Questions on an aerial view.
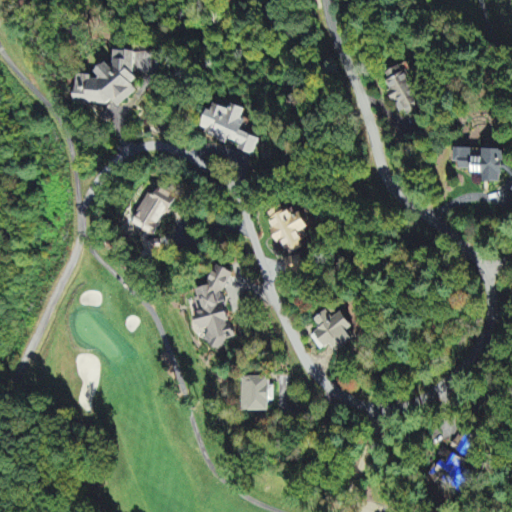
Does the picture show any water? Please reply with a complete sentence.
No, there is no water in the image.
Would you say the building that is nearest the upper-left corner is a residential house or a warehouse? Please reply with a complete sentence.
In the photo, the building that is nearest the upper-left corner shows up as a residential house.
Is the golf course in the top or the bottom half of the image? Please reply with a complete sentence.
It is in the bottom half that the golf course appears.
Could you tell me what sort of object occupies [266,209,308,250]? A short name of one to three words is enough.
house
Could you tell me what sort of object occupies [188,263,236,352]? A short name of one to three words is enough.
house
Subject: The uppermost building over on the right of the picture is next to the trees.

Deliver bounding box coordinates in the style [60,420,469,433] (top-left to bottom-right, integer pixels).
[384,66,418,111]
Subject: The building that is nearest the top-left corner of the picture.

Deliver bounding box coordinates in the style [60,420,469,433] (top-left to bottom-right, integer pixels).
[68,46,135,104]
